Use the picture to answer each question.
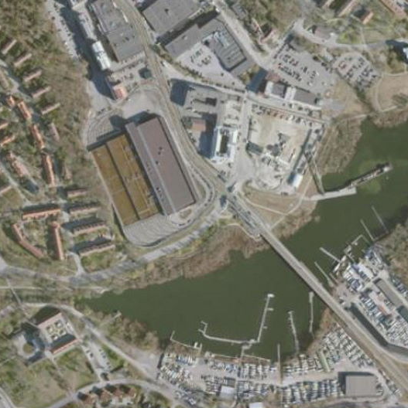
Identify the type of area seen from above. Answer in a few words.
port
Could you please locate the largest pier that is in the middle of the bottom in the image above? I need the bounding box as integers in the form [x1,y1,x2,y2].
[197,294,273,364]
